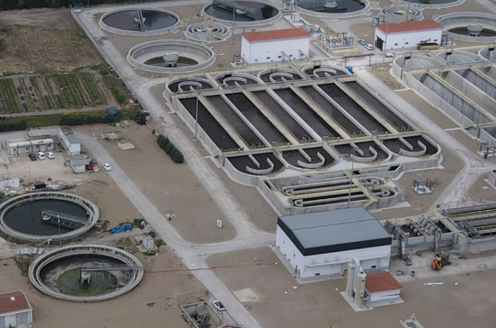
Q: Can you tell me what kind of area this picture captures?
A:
industrial area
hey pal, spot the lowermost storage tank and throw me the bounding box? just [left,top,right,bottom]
[22,245,150,309]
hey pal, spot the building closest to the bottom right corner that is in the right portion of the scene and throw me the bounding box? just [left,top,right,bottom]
[367,273,407,306]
